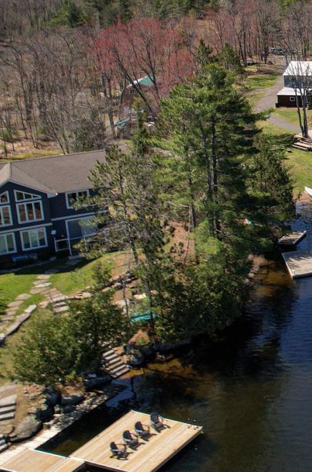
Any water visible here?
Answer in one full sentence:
Yes, the picture does contain water.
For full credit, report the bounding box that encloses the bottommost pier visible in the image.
[4,449,86,472]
